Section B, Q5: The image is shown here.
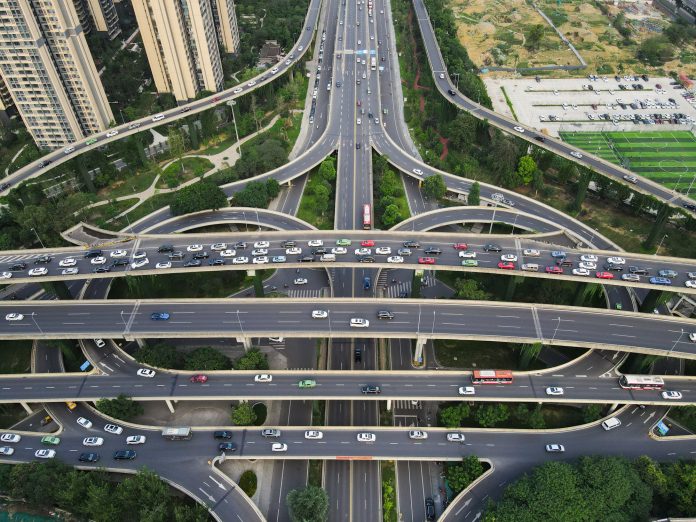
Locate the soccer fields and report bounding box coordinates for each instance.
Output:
[558,132,696,201]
